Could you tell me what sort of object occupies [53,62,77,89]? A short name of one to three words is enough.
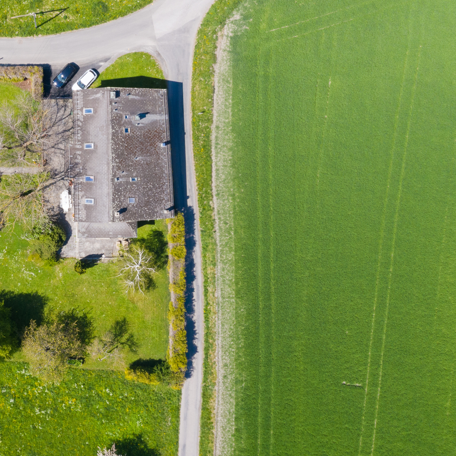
car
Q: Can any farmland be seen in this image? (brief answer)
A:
Yes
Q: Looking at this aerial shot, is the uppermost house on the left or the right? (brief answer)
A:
left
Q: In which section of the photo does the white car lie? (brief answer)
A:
top left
